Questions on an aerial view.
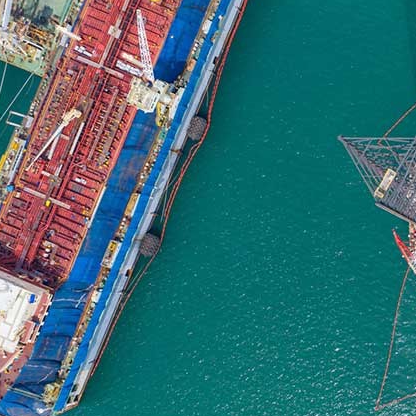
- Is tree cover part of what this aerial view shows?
No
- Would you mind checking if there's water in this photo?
Yes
